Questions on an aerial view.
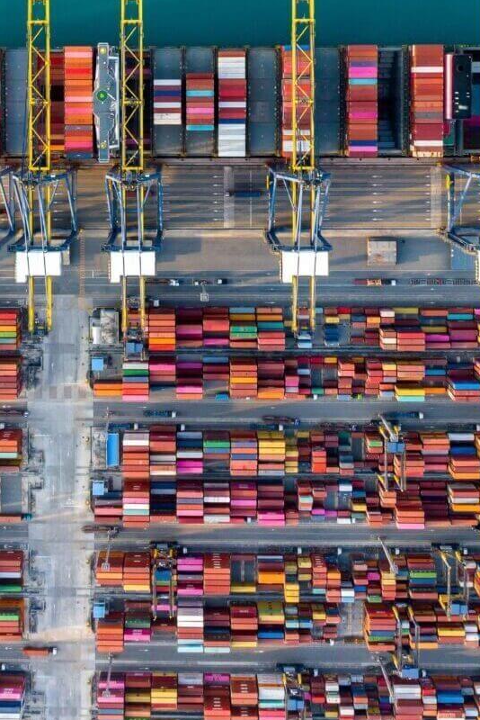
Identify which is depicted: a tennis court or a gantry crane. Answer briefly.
gantry crane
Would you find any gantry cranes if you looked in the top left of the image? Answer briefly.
Yes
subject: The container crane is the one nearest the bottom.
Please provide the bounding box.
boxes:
[277,659,305,720]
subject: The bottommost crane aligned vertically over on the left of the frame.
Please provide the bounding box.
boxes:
[152,539,177,620]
